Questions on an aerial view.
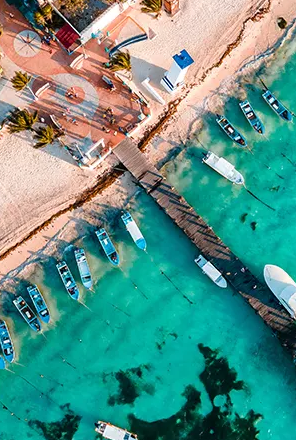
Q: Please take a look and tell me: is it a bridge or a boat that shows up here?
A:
boat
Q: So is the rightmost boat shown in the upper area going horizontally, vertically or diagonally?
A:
diagonally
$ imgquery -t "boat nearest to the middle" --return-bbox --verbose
[121,210,145,250]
